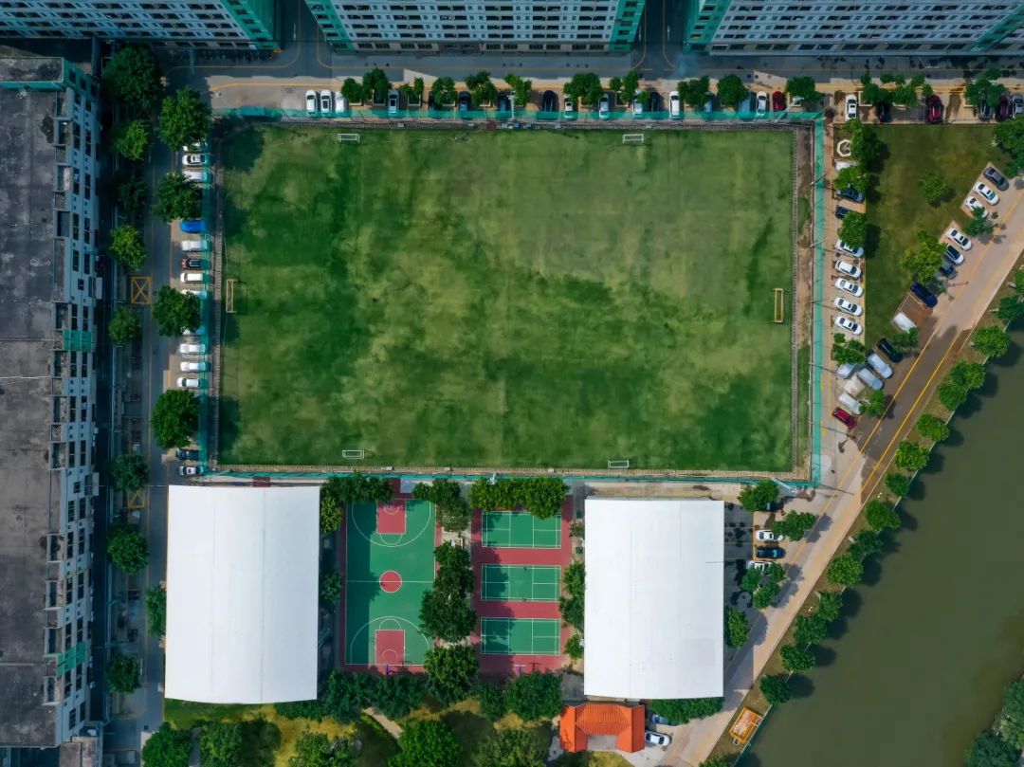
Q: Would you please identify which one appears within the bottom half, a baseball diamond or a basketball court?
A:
basketball court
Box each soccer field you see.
[206,120,814,481]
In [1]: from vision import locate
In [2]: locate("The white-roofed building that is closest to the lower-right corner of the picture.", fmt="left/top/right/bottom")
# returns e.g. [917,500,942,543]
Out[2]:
[583,499,724,699]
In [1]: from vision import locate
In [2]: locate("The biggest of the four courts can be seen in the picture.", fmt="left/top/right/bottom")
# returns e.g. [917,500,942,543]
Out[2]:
[338,480,438,676]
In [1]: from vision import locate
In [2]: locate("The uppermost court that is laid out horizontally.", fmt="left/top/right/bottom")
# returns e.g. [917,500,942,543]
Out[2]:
[482,511,561,548]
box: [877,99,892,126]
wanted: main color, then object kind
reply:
black car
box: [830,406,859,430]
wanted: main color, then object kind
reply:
red car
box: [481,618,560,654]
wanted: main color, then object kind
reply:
green sports court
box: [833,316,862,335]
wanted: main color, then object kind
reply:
white car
